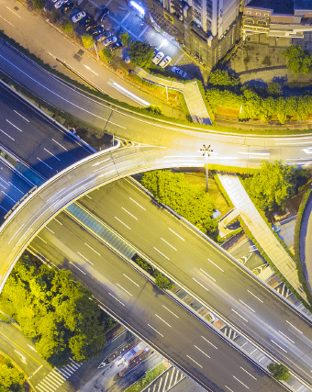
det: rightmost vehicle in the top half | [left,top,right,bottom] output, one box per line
[171,65,186,78]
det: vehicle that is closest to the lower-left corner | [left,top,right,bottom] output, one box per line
[117,337,148,362]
